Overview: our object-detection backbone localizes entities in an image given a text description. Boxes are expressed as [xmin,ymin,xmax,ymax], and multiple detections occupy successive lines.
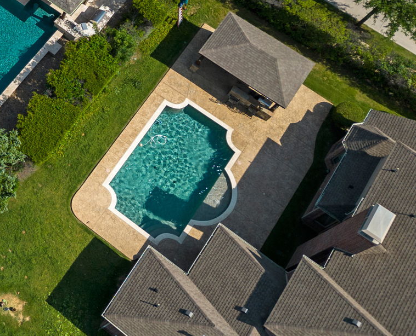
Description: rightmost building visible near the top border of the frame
[190,12,316,116]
